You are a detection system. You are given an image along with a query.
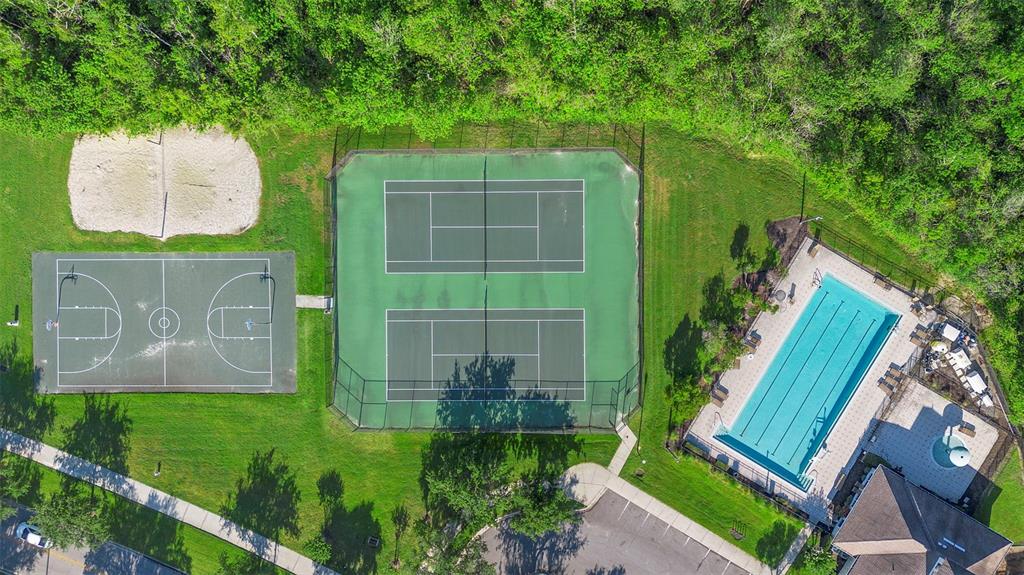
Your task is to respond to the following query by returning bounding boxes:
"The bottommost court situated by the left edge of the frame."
[33,252,296,394]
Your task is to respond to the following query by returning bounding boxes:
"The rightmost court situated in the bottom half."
[386,309,585,402]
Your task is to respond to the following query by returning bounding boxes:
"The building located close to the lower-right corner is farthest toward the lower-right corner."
[828,464,1015,575]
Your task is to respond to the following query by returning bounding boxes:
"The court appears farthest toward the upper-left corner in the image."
[68,123,261,240]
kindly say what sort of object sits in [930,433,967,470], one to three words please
swimming pool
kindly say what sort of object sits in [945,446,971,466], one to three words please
fountain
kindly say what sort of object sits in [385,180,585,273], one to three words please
tennis court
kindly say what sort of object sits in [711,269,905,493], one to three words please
swimming pool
